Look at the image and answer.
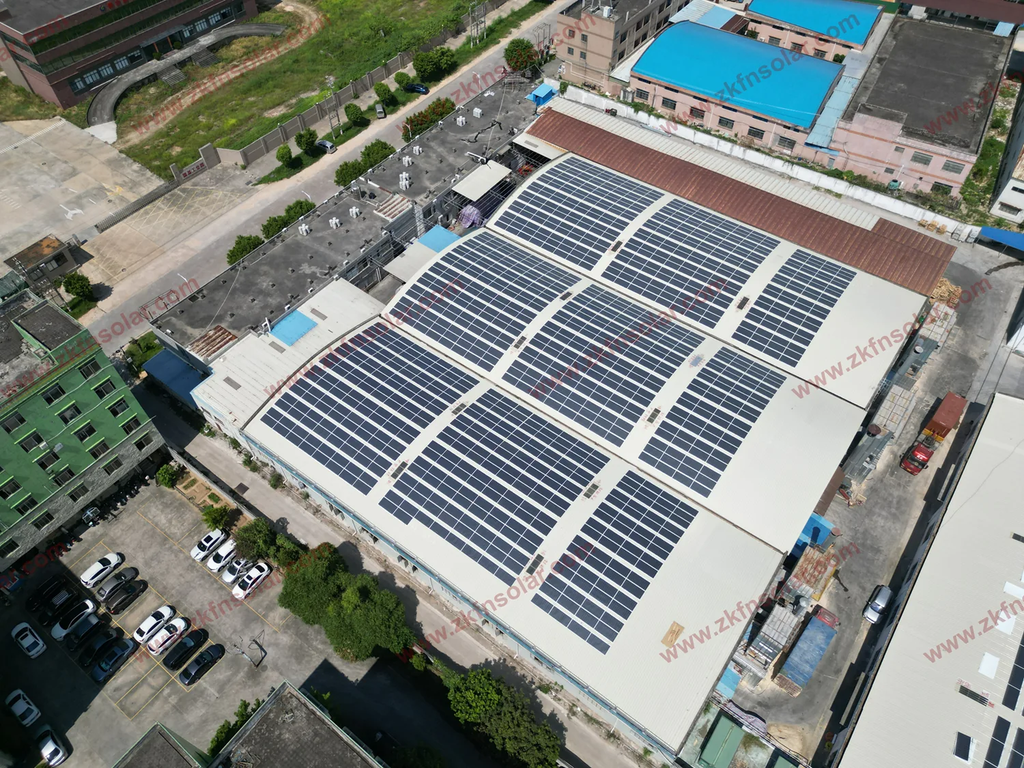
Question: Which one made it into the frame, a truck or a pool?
truck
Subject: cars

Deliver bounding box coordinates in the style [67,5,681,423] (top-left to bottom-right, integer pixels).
[90,638,139,685]
[76,624,124,670]
[178,643,226,689]
[50,598,98,641]
[862,583,891,627]
[231,561,273,602]
[4,686,45,730]
[203,536,241,575]
[404,84,429,95]
[94,565,141,605]
[313,141,339,153]
[375,99,387,119]
[162,627,209,672]
[63,609,111,653]
[131,603,178,647]
[188,526,230,563]
[215,554,256,589]
[146,616,191,659]
[367,719,407,767]
[22,572,70,614]
[11,622,49,661]
[29,727,77,768]
[37,583,84,625]
[103,577,149,619]
[79,552,123,590]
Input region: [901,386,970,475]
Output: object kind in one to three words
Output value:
truck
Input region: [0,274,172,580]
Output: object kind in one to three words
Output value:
building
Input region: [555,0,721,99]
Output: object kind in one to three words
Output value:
building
